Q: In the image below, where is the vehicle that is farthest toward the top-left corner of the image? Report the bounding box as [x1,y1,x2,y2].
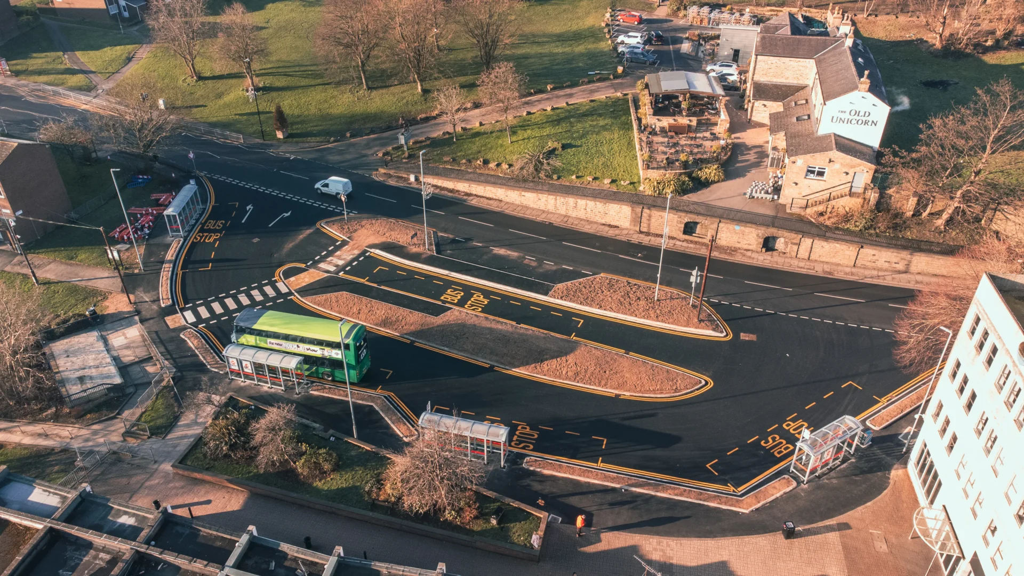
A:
[313,177,356,202]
